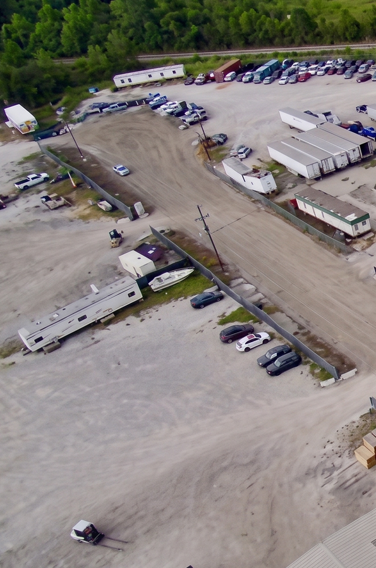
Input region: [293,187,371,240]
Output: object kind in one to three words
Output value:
trailer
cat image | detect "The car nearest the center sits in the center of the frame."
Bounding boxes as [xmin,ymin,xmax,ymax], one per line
[190,289,224,308]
